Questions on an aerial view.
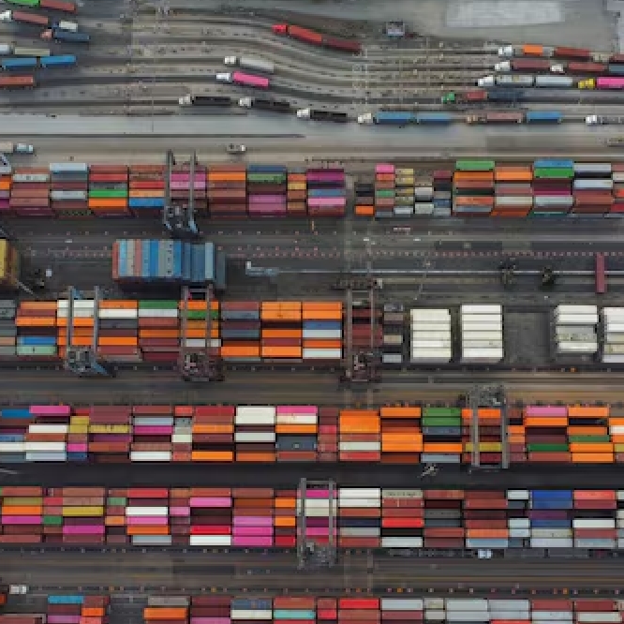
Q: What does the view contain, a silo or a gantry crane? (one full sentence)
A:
This aerial view contains a gantry crane.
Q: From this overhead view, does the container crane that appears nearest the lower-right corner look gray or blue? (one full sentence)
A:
In this view, the container crane that appears nearest the lower-right corner is gray.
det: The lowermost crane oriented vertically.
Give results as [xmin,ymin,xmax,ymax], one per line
[297,480,340,568]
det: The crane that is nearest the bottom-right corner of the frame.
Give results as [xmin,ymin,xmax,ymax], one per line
[458,386,509,471]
